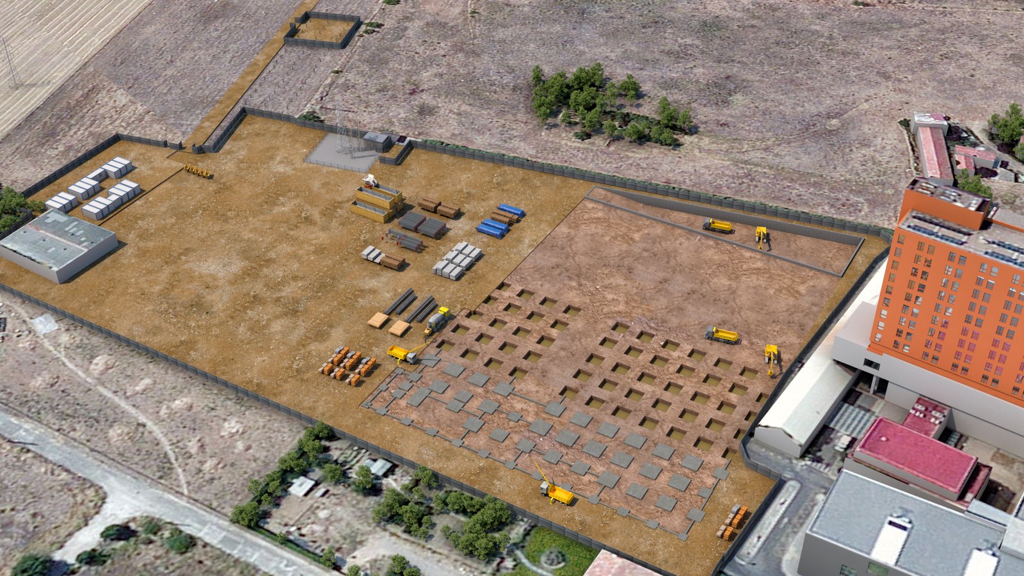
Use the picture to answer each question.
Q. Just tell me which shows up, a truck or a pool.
truck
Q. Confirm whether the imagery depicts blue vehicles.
No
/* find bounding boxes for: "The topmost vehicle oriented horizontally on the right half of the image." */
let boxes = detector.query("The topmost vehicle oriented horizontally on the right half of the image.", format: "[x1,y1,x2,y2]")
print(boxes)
[704,218,736,236]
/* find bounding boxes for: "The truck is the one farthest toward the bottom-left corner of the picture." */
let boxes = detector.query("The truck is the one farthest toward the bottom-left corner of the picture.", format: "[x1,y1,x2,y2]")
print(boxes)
[388,345,429,368]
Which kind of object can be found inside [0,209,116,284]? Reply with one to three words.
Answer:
shed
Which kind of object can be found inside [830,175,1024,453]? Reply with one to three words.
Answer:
building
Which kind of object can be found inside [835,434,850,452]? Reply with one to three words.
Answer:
vehicle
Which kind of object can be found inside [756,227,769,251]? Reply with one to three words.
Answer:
vehicle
